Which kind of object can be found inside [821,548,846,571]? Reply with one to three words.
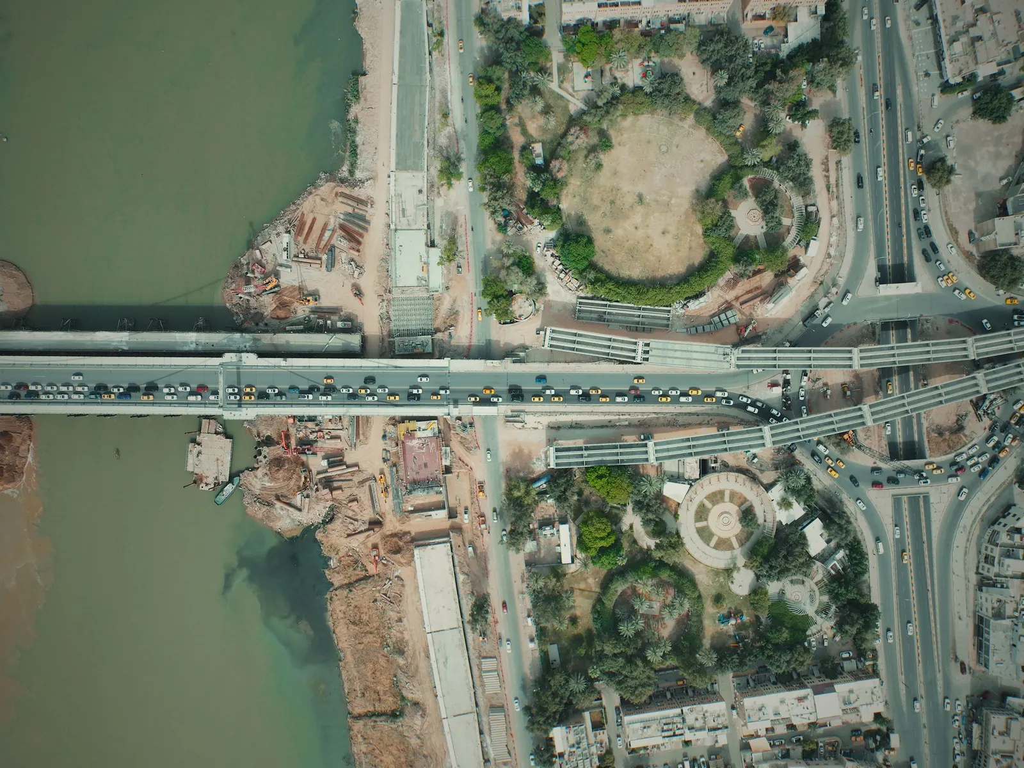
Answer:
shed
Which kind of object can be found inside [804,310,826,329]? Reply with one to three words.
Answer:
vehicle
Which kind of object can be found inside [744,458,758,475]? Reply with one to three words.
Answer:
vehicle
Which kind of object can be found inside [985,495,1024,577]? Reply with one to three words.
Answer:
building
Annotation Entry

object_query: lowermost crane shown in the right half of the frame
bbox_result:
[841,430,921,478]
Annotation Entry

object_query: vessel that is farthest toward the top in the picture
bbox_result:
[184,419,234,489]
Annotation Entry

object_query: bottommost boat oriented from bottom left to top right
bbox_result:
[215,478,238,505]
